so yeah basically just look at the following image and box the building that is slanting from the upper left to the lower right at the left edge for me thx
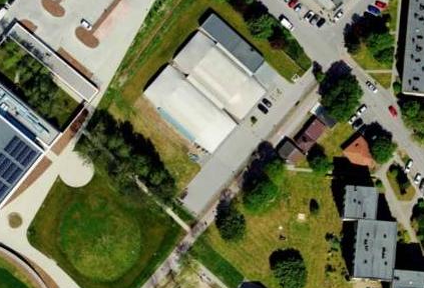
[0,22,100,104]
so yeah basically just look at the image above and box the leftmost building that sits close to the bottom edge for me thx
[352,220,399,283]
